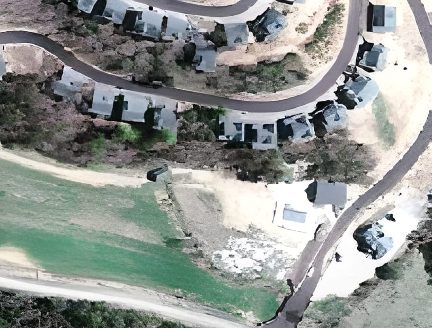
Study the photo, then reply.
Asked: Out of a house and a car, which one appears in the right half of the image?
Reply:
house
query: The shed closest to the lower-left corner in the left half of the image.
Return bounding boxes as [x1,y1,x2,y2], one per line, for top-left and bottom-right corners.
[151,161,175,184]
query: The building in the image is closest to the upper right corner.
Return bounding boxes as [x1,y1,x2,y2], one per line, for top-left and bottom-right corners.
[370,4,397,33]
